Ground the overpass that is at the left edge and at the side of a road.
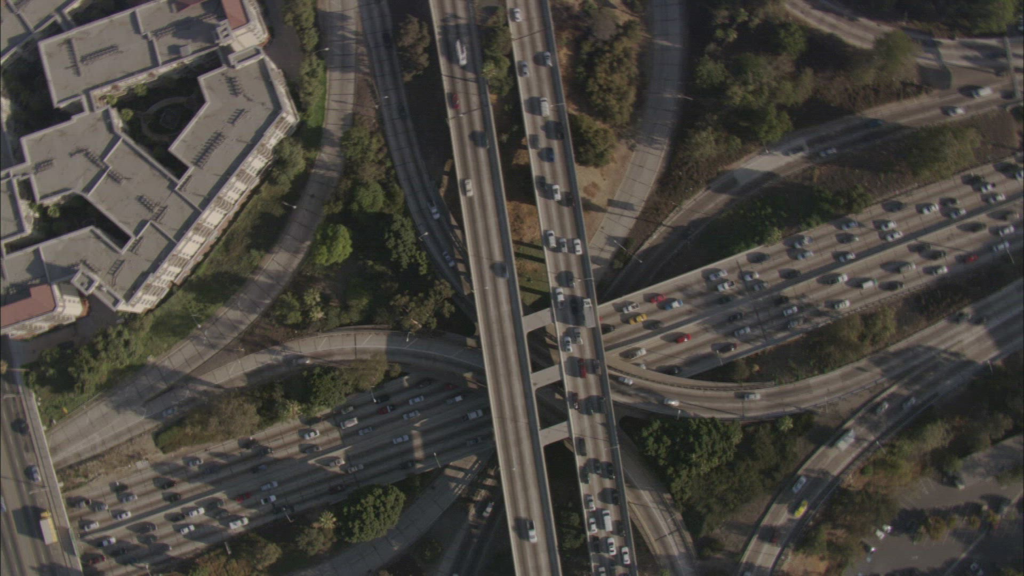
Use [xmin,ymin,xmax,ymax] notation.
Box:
[0,269,87,576]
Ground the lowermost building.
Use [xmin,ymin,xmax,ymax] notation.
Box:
[0,283,97,345]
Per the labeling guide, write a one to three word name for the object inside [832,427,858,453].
truck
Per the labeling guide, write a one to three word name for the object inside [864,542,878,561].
car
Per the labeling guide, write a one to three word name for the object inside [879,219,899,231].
vehicle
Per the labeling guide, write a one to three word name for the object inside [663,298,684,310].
vehicle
